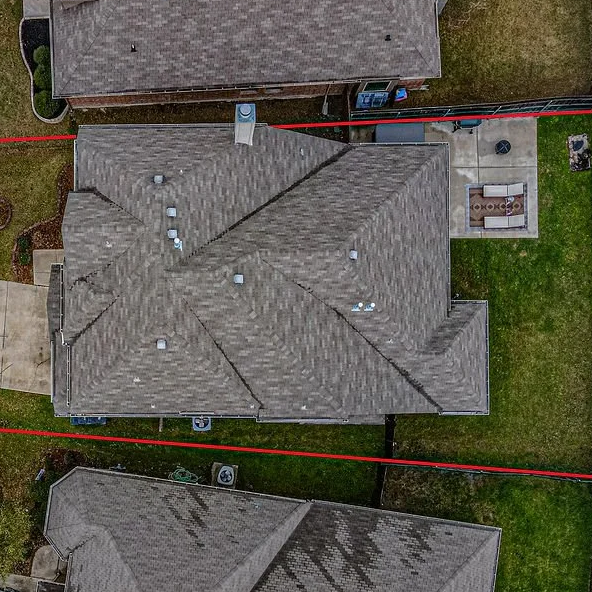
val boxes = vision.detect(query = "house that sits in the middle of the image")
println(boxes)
[47,102,491,425]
